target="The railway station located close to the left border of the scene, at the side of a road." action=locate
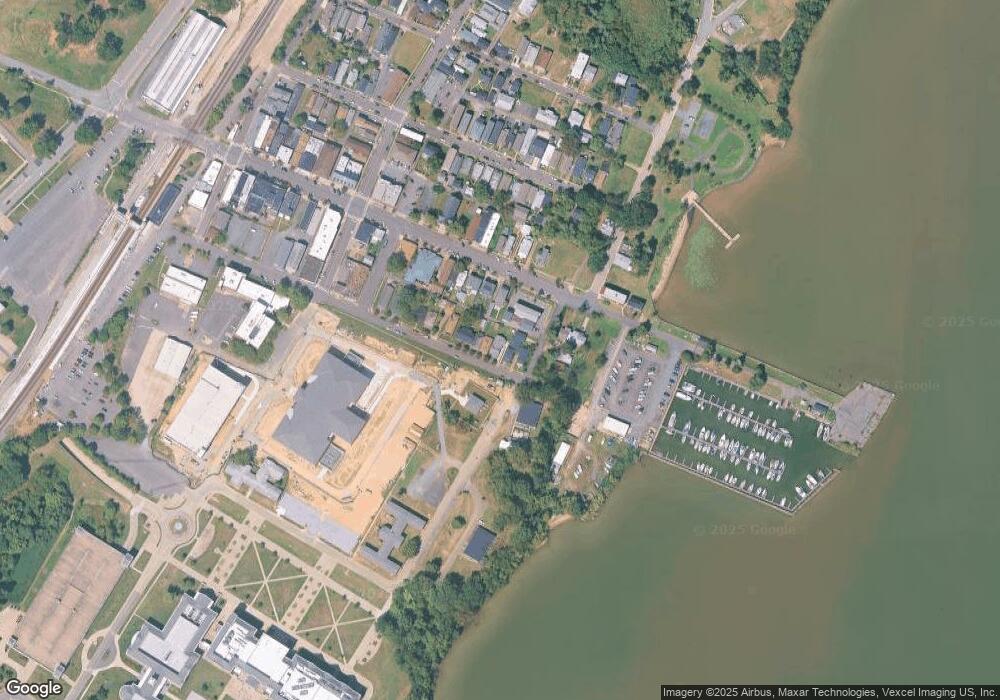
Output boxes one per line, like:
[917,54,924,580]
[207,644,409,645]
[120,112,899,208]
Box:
[0,151,193,424]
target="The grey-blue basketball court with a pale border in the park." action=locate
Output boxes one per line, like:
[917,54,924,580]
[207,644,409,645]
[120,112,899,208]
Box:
[694,108,719,139]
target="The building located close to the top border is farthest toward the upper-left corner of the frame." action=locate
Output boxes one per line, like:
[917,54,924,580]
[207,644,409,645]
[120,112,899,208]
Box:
[140,9,226,114]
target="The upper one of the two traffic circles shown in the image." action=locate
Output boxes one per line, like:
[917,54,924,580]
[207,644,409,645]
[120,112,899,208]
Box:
[157,505,199,547]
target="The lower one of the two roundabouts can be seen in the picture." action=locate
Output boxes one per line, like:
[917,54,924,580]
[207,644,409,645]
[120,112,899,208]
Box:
[82,624,126,674]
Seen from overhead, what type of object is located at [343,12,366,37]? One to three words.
house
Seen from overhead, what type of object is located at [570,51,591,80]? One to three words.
house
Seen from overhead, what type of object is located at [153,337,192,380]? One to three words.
shed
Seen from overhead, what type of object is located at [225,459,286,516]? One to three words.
building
